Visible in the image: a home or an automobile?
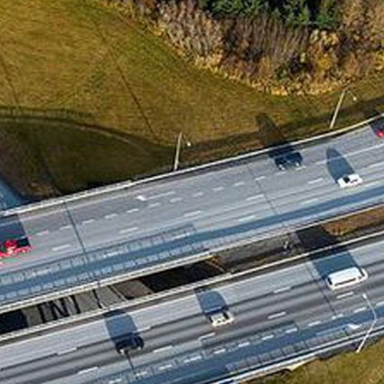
automobile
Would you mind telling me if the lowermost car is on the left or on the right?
left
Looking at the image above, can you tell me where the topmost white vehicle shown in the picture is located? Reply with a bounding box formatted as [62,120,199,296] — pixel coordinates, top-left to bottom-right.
[336,172,362,188]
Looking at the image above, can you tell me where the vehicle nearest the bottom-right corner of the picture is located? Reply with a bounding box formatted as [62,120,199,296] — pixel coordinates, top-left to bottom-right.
[327,266,365,288]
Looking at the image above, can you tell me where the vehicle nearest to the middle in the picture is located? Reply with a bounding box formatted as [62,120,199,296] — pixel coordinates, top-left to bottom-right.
[274,152,303,170]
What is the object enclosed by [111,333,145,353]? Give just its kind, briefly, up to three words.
car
